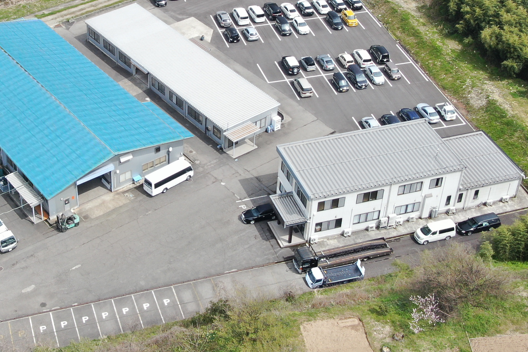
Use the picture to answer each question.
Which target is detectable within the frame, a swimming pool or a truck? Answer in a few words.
truck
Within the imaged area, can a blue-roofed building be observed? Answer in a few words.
Yes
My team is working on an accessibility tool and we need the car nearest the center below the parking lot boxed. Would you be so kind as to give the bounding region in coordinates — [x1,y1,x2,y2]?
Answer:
[237,205,277,226]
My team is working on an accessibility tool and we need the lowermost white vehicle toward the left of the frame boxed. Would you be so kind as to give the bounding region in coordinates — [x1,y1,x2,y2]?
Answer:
[0,224,18,251]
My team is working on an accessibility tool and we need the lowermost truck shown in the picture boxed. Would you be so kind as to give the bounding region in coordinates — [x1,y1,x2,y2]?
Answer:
[305,263,370,291]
